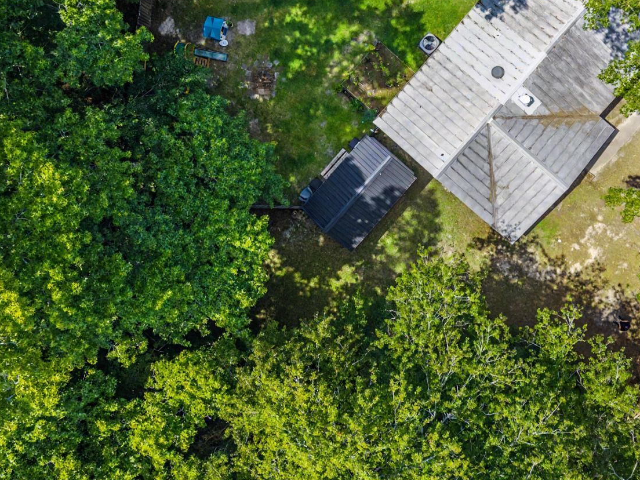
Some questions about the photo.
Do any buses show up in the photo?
No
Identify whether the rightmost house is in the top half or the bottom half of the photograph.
top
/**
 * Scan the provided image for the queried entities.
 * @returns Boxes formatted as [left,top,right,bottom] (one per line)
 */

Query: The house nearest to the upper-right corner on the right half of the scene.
[374,0,640,247]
